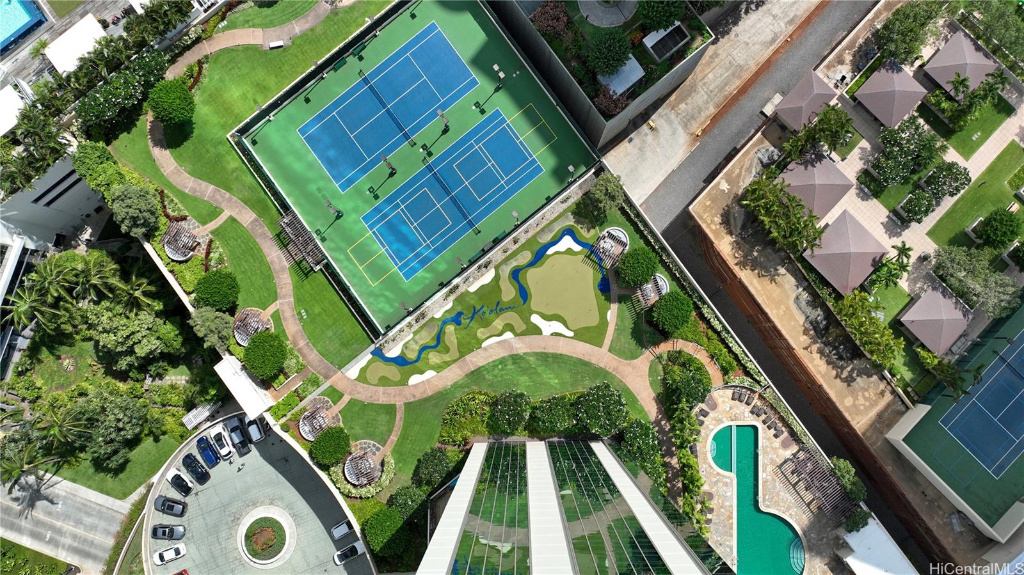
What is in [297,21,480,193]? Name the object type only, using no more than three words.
tennis court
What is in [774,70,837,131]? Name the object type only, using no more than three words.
building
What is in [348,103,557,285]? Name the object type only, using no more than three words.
tennis court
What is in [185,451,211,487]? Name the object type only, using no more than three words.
car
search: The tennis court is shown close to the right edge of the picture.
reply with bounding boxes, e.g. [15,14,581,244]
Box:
[884,293,1024,545]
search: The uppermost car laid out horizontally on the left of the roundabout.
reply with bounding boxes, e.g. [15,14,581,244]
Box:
[154,498,190,516]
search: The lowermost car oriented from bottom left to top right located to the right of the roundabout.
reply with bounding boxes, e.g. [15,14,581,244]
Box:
[331,540,366,569]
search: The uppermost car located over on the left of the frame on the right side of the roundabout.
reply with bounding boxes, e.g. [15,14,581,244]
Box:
[328,518,354,542]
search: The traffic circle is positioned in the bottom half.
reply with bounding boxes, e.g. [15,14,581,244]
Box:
[236,507,296,568]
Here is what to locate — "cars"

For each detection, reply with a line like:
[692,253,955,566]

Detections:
[154,498,190,516]
[331,540,366,569]
[167,467,195,500]
[328,518,354,542]
[152,524,187,541]
[185,451,211,487]
[198,434,220,470]
[211,425,235,463]
[153,541,189,565]
[242,416,269,446]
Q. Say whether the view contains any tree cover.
Yes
